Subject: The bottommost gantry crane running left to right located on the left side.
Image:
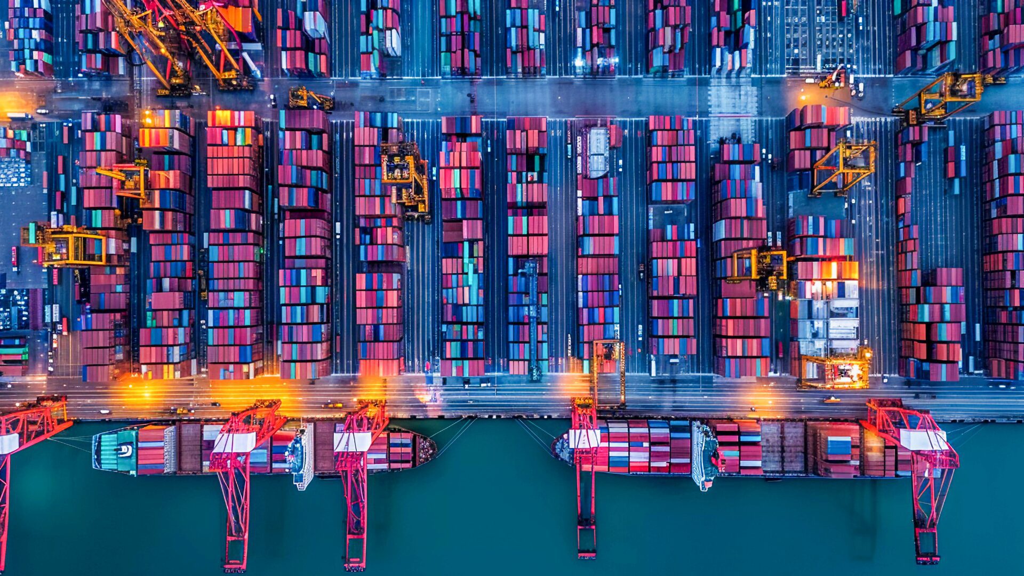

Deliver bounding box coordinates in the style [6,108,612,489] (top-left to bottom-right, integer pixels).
[20,223,129,266]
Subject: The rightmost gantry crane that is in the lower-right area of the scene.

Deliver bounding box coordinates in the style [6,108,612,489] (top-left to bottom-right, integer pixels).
[857,398,962,565]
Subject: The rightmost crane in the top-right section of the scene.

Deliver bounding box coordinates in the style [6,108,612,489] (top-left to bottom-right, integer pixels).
[897,73,1006,125]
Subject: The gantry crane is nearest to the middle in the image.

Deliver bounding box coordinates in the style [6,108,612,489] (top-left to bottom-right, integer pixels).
[518,262,537,375]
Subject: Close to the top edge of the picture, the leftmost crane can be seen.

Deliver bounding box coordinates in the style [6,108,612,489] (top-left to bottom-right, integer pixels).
[104,0,190,99]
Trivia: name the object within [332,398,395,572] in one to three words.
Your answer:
container crane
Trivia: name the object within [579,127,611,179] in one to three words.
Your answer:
shed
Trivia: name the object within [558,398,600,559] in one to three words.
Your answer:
container crane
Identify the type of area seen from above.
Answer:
port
